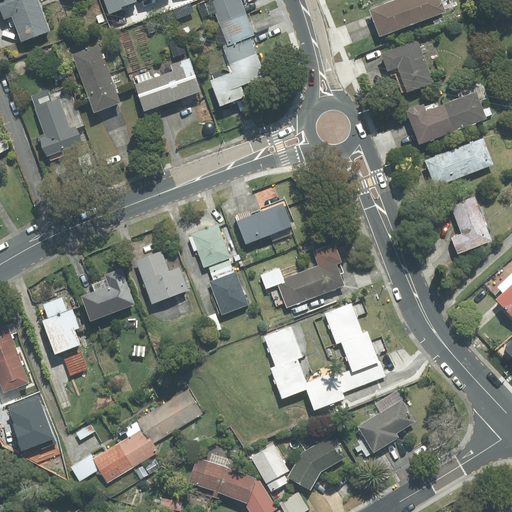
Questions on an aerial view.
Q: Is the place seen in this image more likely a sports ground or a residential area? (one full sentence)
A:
The area seen from above is a residential area.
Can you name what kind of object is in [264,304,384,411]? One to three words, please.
building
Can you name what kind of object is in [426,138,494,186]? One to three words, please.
house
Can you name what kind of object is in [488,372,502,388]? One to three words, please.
vehicle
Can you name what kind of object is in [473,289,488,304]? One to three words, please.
car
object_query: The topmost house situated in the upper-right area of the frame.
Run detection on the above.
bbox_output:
[370,0,445,36]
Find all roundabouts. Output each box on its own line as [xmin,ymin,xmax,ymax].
[316,110,351,145]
